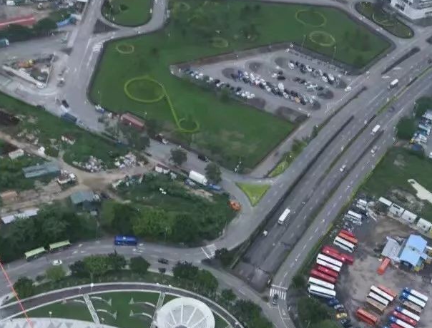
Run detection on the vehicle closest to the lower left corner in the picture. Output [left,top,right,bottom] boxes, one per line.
[24,247,46,260]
